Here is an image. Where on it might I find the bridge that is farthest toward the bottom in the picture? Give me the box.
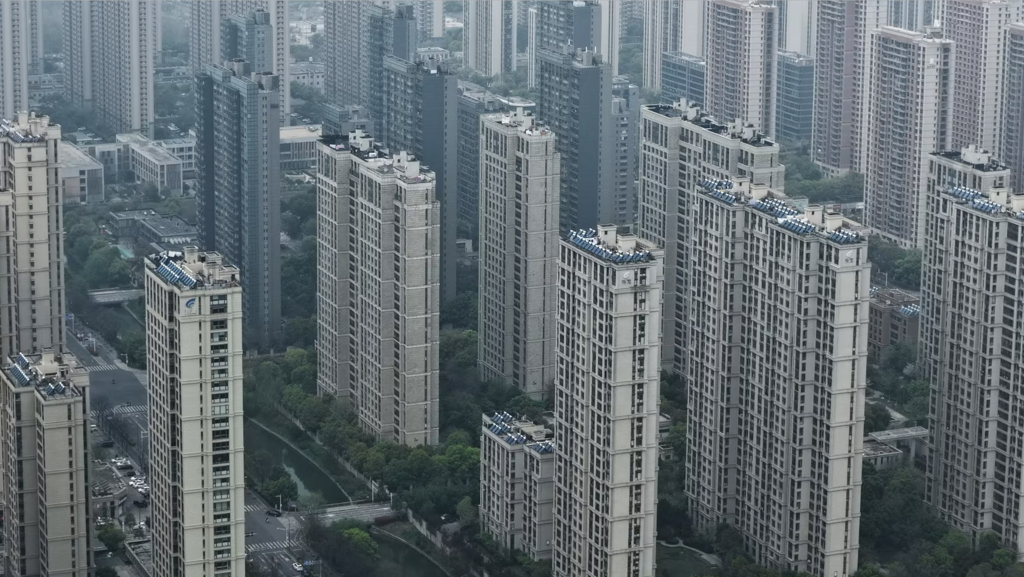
[311,499,407,528]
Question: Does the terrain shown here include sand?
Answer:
No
